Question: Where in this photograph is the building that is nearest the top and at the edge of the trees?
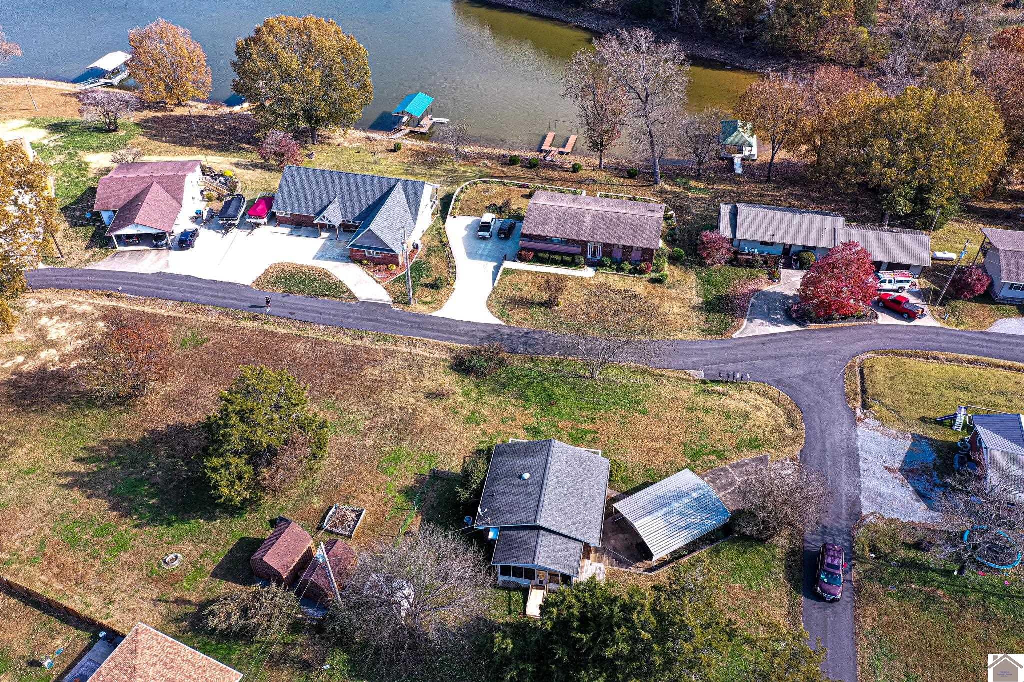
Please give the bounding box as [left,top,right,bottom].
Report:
[713,118,756,160]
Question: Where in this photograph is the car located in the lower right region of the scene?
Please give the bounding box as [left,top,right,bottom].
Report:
[815,541,850,605]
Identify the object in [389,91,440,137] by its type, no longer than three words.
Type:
pier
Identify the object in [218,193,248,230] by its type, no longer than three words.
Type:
boat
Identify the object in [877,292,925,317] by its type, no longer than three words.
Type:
truck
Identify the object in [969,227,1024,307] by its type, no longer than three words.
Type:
house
